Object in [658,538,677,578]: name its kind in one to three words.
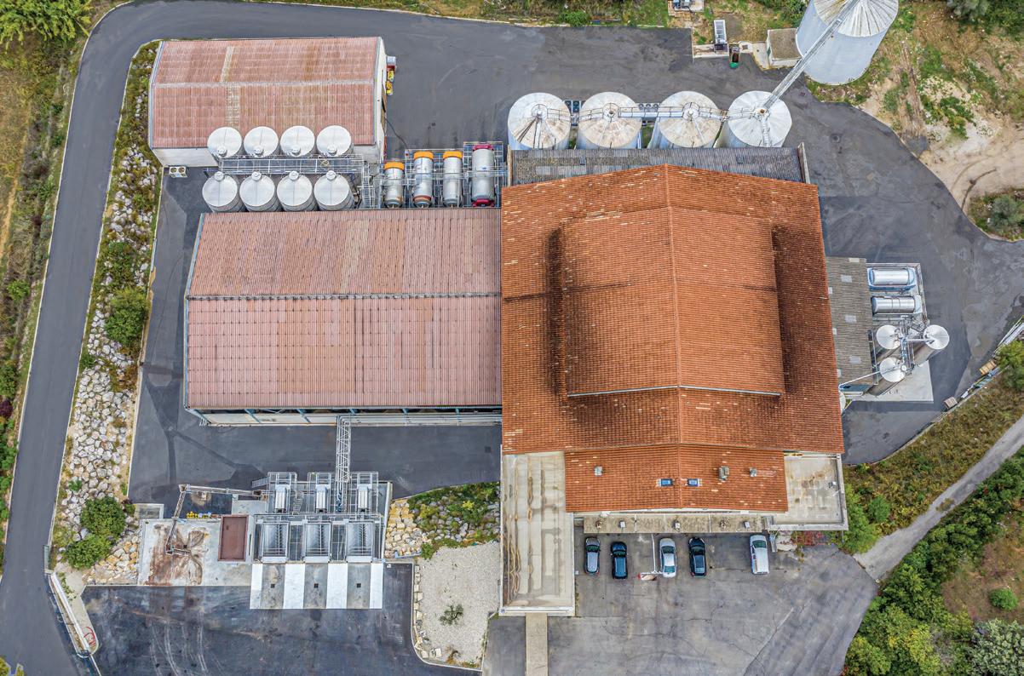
car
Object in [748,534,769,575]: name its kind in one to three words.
vehicle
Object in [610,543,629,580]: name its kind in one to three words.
car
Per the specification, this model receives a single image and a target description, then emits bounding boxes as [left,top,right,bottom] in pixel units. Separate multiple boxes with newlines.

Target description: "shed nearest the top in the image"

[766,29,805,68]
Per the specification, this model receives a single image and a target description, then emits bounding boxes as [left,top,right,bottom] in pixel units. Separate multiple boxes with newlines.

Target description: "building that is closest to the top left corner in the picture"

[149,37,386,165]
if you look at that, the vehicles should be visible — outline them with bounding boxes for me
[658,538,677,578]
[610,543,629,580]
[748,534,769,575]
[688,537,707,577]
[583,538,601,575]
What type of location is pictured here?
industrial area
